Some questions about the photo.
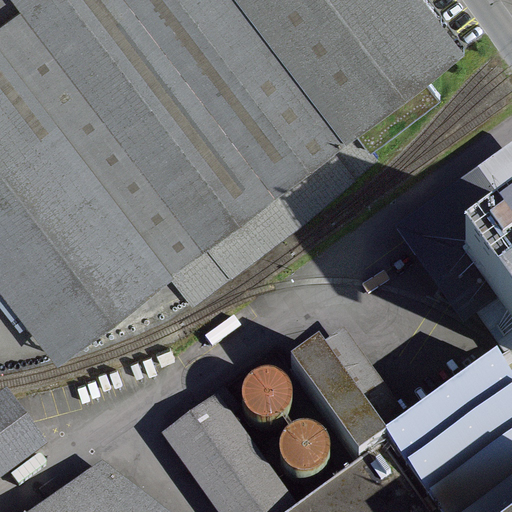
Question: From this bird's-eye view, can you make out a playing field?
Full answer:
No, this view has no playing field in it.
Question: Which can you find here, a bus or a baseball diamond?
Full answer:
I can see a bus in this picture.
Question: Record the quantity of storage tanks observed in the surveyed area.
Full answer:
My tally gives 2 storage tanks in this view.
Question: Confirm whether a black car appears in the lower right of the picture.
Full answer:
Yes, a black car appears in the lower right of the picture.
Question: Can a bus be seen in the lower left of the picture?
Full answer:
Yes, a bus can be seen in the lower left of the picture.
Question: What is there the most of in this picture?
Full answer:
Most of the picture is covered by buildings.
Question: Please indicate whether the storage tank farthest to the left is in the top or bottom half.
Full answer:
You can find the storage tank farthest to the left in the bottom half.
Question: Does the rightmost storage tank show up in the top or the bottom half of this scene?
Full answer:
The rightmost storage tank is in the bottom half of the image.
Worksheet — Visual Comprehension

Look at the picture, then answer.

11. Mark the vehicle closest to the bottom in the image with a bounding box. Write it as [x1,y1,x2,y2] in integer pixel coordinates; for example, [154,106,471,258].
[11,450,49,486]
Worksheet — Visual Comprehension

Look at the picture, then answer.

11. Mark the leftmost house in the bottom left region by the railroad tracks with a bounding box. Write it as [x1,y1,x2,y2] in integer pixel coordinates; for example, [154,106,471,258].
[0,388,48,482]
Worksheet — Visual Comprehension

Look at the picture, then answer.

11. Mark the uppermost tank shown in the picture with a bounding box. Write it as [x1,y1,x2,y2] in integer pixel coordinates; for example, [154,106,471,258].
[242,367,294,430]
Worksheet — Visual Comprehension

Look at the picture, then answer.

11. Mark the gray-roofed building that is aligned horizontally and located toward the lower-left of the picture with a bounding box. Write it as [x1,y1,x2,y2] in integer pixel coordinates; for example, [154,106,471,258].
[24,460,155,512]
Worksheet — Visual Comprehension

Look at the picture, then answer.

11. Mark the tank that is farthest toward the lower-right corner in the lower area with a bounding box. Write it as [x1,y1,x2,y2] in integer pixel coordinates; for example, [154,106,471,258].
[279,421,331,482]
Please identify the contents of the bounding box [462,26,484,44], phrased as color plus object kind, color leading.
white car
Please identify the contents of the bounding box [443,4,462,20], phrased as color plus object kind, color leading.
white car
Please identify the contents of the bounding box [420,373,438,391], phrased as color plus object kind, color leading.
black car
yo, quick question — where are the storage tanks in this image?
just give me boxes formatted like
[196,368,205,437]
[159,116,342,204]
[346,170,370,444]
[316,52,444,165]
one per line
[242,367,294,430]
[279,421,331,482]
